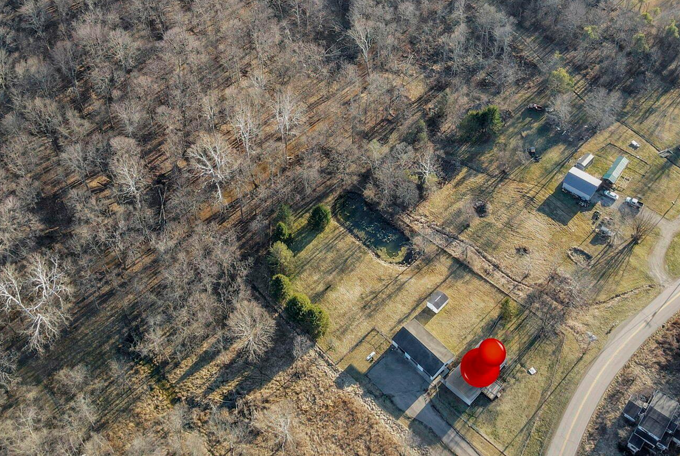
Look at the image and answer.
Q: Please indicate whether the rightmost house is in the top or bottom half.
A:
bottom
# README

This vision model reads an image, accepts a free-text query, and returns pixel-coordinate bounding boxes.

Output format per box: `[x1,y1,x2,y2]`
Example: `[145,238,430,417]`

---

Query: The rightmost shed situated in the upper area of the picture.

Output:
[603,156,629,186]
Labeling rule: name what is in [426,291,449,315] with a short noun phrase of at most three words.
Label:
shed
